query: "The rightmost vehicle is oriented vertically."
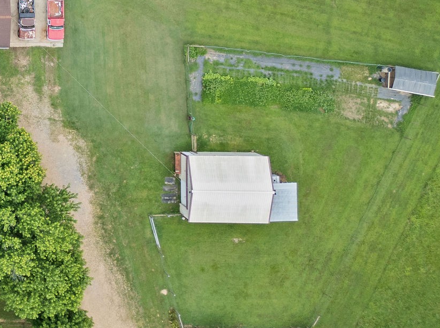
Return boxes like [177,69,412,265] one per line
[46,0,65,44]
